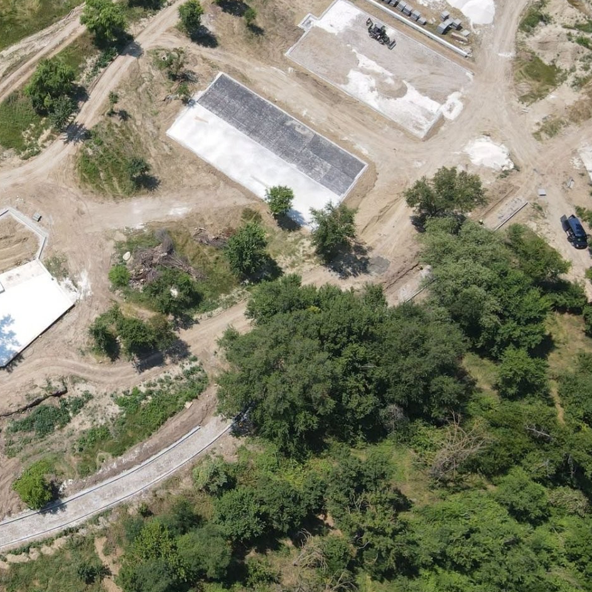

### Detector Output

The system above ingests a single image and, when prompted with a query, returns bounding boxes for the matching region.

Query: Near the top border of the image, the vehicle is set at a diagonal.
[367,11,401,51]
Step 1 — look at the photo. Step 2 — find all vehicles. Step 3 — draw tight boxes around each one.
[563,208,588,247]
[367,11,401,51]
